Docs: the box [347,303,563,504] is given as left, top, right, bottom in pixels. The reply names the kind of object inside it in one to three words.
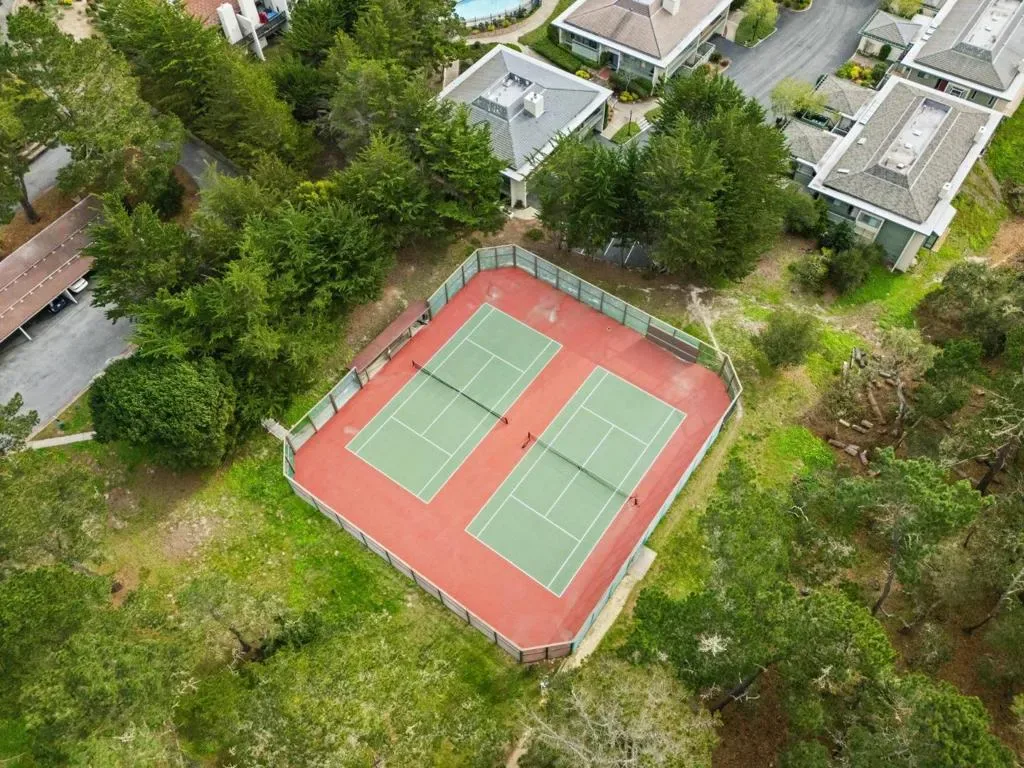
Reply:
tennis court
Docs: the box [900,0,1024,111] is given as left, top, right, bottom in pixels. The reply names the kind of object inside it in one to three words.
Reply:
house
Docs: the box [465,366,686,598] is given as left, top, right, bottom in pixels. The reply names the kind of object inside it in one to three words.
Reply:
tennis court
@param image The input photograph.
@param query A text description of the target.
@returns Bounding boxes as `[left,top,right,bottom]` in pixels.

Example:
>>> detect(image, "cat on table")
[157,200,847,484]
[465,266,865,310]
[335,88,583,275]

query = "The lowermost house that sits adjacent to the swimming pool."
[435,45,615,210]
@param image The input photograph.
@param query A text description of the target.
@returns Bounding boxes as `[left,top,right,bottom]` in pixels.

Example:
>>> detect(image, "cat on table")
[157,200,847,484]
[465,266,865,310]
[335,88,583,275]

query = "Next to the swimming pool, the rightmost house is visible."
[549,0,735,89]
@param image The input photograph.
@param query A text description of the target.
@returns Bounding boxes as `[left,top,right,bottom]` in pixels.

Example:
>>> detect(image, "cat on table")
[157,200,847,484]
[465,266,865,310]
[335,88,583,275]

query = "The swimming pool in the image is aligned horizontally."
[435,0,530,28]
